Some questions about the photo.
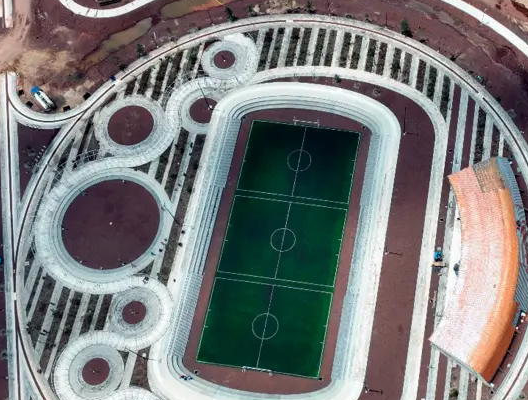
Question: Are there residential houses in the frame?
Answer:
No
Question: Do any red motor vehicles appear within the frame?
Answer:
No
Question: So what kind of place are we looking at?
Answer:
sports ground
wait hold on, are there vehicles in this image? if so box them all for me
[26,80,55,111]
[433,244,443,260]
